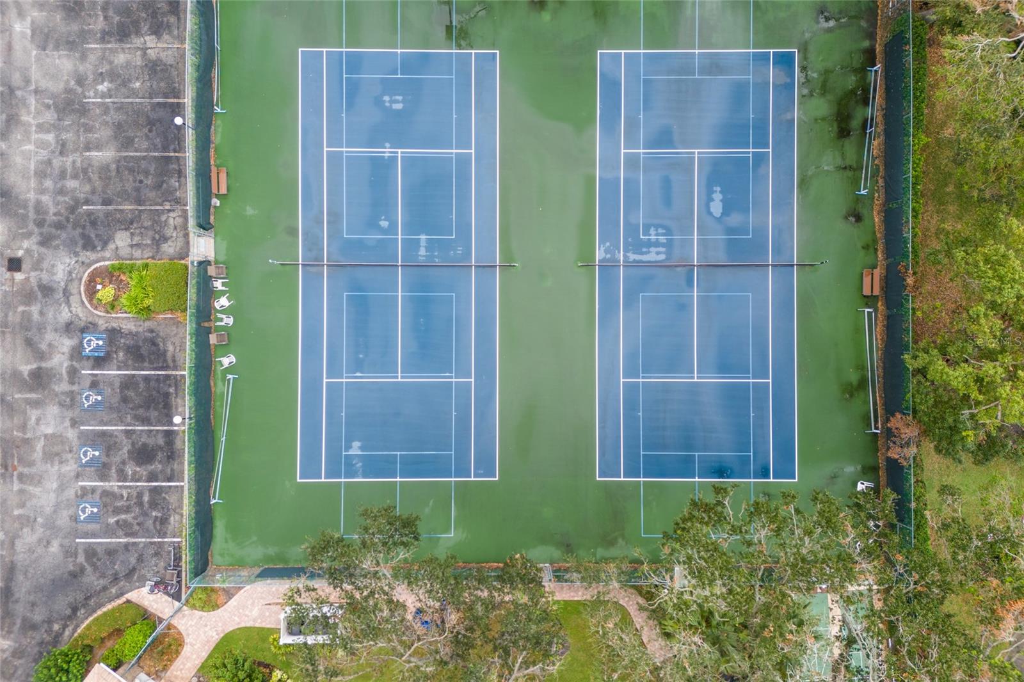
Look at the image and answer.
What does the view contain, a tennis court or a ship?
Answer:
tennis court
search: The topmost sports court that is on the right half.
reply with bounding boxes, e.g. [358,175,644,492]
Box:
[640,0,754,238]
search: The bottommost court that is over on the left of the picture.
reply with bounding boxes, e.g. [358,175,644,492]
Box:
[341,293,456,536]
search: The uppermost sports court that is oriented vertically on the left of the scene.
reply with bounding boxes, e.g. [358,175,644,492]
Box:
[342,0,457,237]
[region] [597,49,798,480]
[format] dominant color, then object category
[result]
blue tennis court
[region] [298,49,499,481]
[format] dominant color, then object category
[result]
blue tennis court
